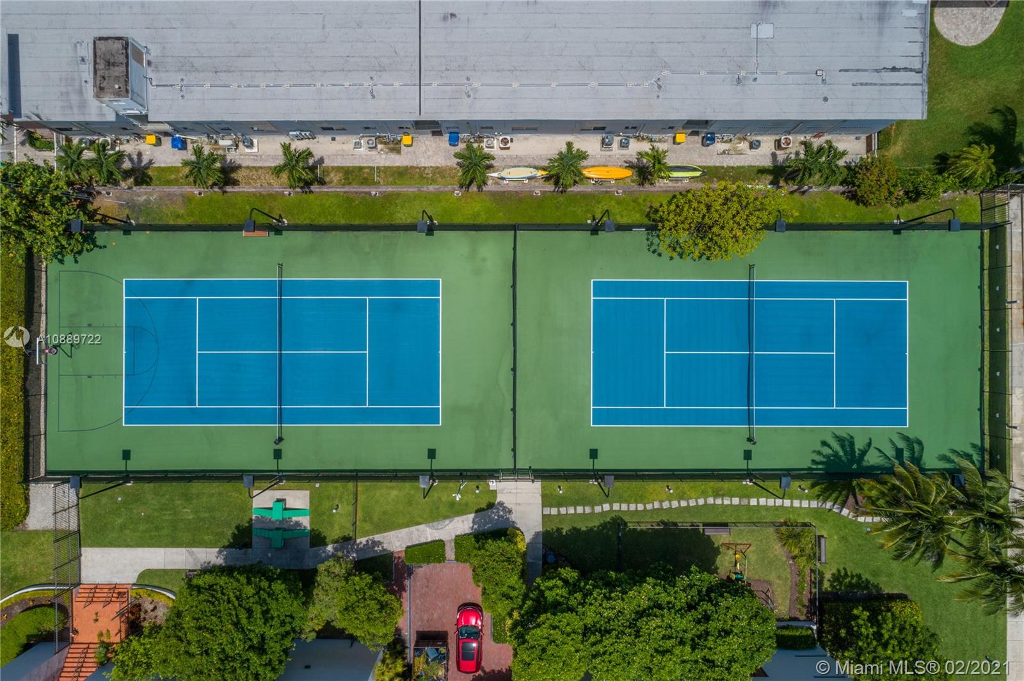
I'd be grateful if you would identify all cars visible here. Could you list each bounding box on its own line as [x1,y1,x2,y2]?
[453,603,485,672]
